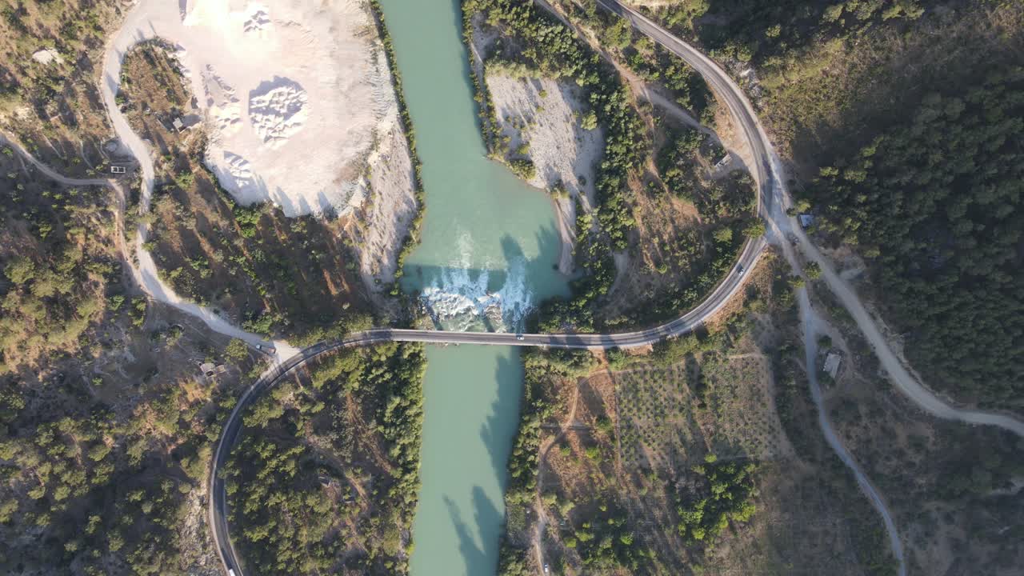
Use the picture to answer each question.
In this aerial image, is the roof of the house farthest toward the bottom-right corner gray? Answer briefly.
Yes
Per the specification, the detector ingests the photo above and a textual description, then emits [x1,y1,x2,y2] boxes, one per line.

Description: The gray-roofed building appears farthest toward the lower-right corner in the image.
[821,352,842,378]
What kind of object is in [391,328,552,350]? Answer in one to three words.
bridge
